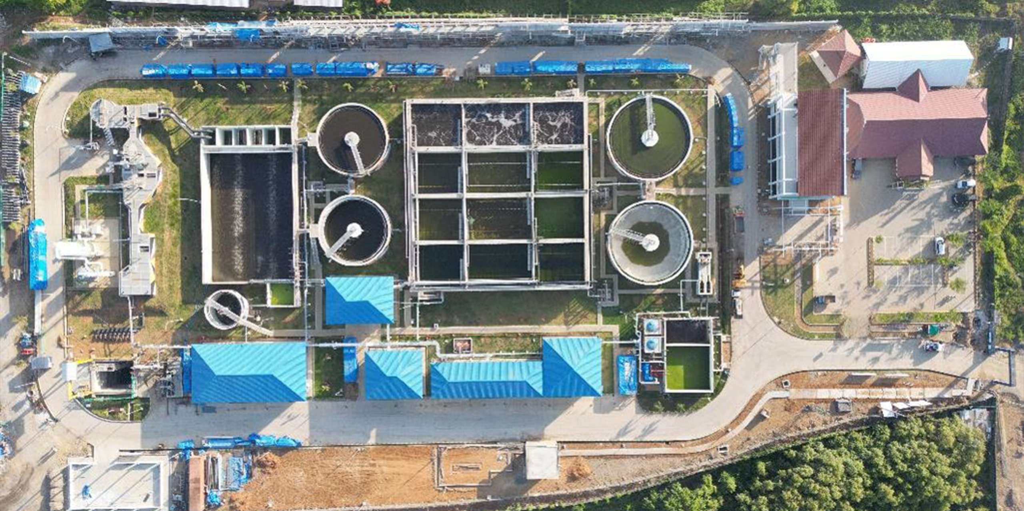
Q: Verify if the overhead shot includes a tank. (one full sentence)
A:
Yes, there's a tank down there.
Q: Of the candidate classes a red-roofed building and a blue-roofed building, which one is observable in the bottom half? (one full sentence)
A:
The feature located in the bottom half is a blue-roofed building.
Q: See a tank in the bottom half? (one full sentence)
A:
Yes, looking in the bottom half, one can make out a tank.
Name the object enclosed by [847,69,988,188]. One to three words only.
house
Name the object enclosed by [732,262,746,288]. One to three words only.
vehicle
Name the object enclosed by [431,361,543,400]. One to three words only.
building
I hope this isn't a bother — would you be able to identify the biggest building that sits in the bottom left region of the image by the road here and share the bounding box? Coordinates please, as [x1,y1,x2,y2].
[191,342,309,403]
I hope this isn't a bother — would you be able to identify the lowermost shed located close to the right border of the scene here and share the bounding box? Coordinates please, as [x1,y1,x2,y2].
[961,407,993,440]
